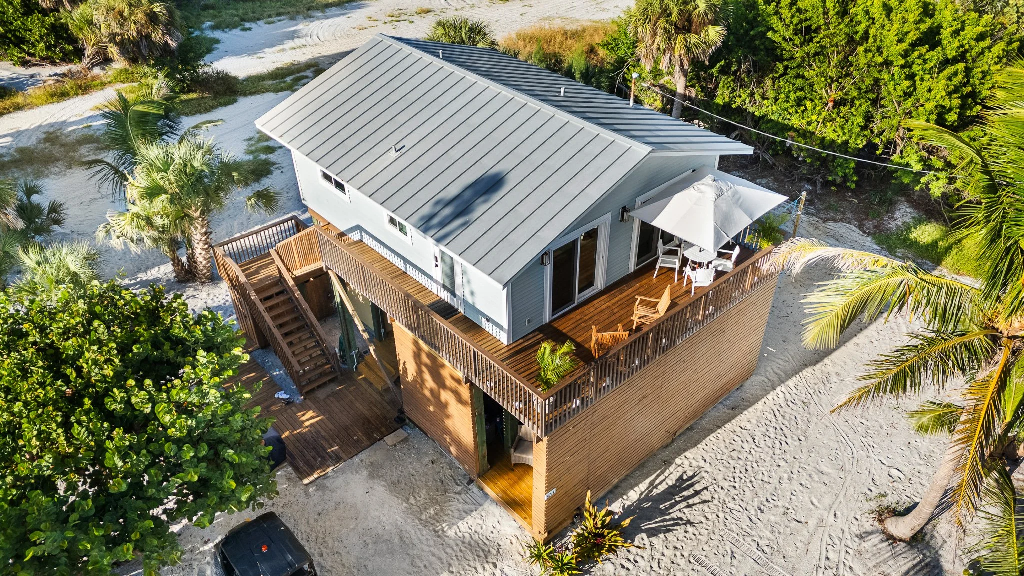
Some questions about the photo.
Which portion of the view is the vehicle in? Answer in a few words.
bottom left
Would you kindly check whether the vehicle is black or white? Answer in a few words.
black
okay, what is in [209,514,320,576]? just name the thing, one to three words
vehicle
